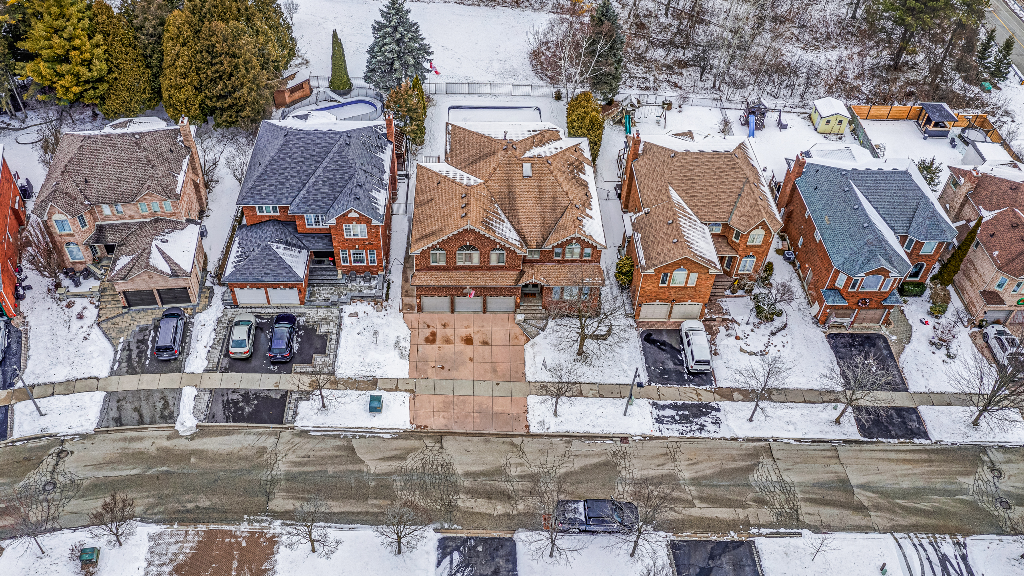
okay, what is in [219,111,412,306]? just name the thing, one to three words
house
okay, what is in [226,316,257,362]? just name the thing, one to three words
car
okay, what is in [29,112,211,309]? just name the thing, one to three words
house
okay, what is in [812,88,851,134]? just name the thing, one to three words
shed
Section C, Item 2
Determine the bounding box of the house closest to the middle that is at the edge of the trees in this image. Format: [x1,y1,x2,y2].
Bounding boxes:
[406,121,608,327]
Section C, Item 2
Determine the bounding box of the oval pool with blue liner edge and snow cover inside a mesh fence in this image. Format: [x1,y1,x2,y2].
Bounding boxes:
[296,92,387,120]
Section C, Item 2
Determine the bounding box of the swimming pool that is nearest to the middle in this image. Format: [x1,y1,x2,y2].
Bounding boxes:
[444,105,542,138]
